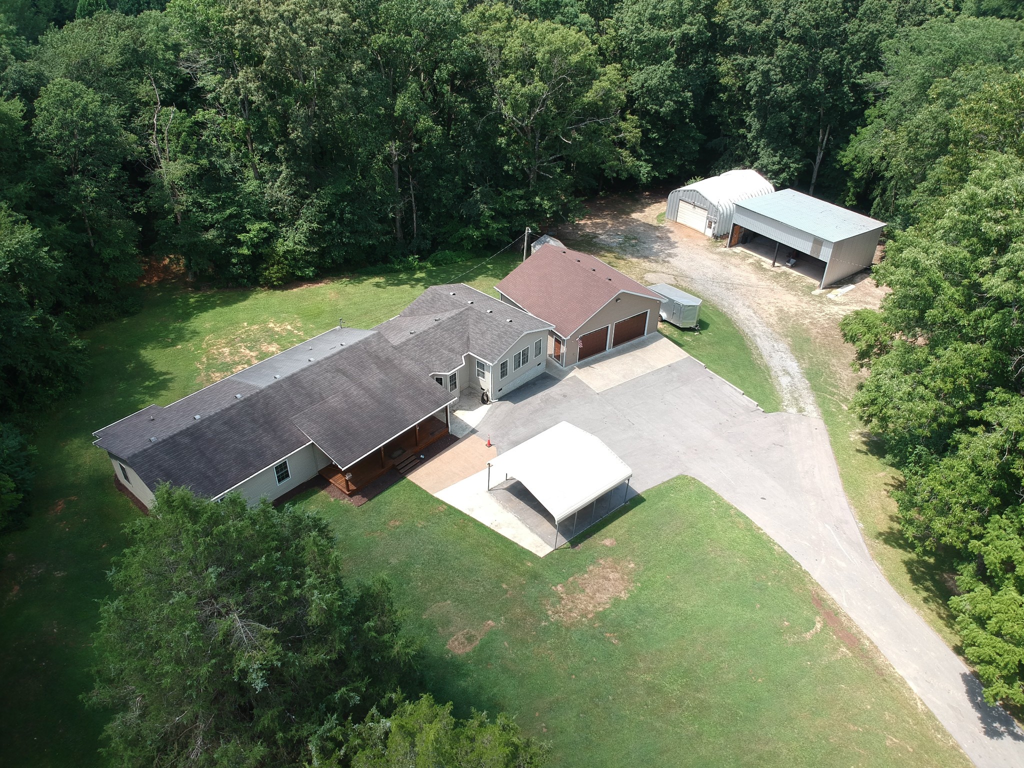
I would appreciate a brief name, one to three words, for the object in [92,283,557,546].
house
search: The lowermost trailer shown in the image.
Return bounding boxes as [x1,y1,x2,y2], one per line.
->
[649,280,707,334]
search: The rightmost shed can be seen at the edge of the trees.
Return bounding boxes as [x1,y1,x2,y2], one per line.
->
[726,189,887,290]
